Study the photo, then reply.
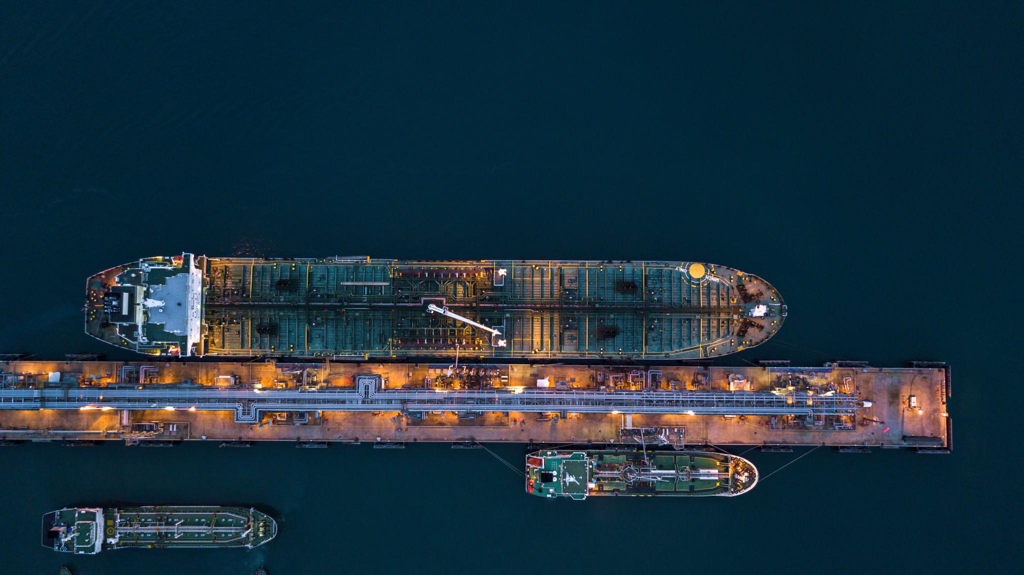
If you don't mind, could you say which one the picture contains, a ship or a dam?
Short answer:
ship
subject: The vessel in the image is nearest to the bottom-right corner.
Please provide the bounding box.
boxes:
[526,448,758,500]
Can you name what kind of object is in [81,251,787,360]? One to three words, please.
ship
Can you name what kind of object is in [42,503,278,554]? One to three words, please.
ship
